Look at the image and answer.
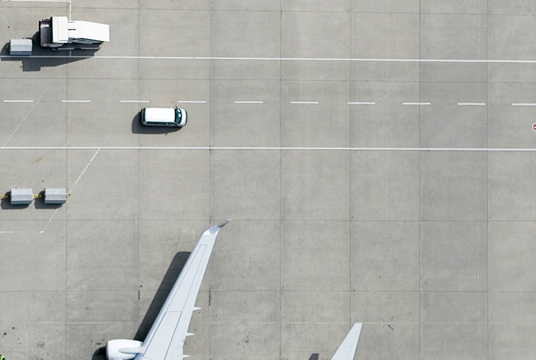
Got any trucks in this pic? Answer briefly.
Yes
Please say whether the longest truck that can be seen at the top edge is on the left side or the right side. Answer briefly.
left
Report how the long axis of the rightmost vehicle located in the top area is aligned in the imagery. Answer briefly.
from side to side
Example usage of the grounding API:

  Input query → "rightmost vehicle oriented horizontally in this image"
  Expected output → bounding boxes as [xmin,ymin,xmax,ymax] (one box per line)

[141,106,188,129]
